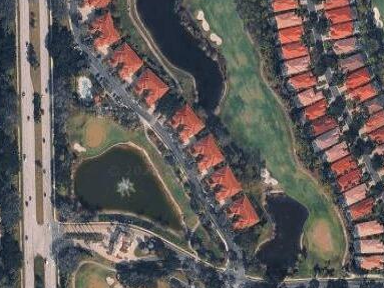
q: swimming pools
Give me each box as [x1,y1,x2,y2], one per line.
[77,76,92,99]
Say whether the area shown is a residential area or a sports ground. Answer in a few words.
residential area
